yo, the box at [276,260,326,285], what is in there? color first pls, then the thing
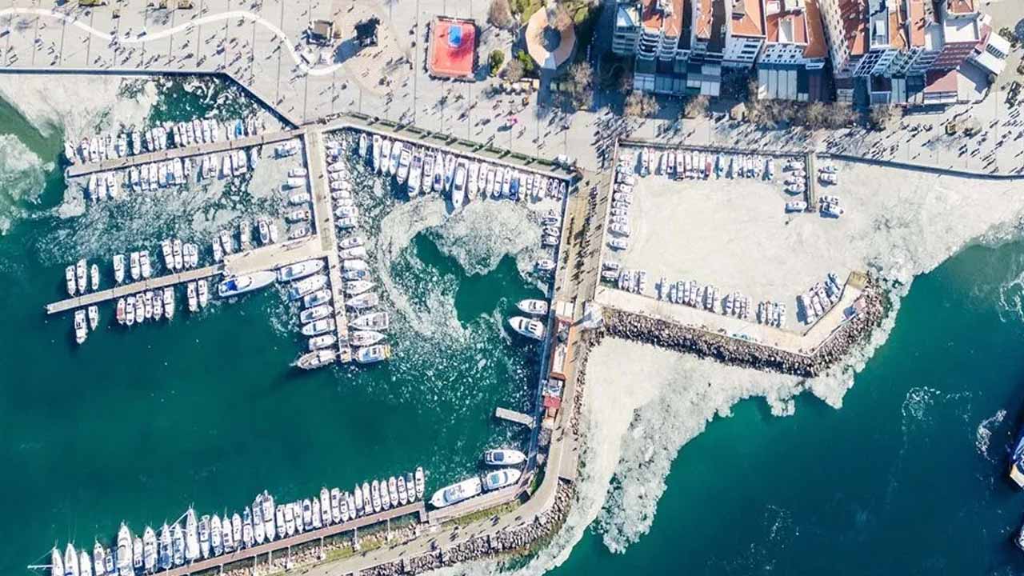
white boat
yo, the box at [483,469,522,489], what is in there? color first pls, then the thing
white boat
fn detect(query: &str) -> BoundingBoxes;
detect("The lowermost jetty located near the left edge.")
[46,263,225,314]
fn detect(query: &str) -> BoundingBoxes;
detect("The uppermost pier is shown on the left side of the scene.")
[66,130,309,179]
